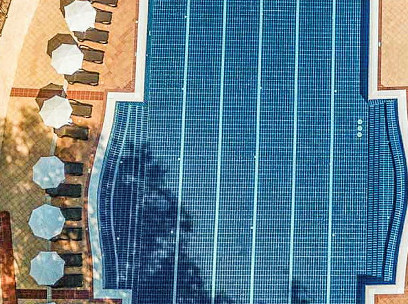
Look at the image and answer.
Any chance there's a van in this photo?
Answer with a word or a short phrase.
No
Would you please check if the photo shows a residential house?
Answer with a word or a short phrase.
No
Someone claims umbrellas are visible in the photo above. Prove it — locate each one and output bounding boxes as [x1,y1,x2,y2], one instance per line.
[27,201,73,242]
[52,42,91,75]
[31,154,73,190]
[62,0,104,34]
[28,246,73,287]
[39,92,81,128]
